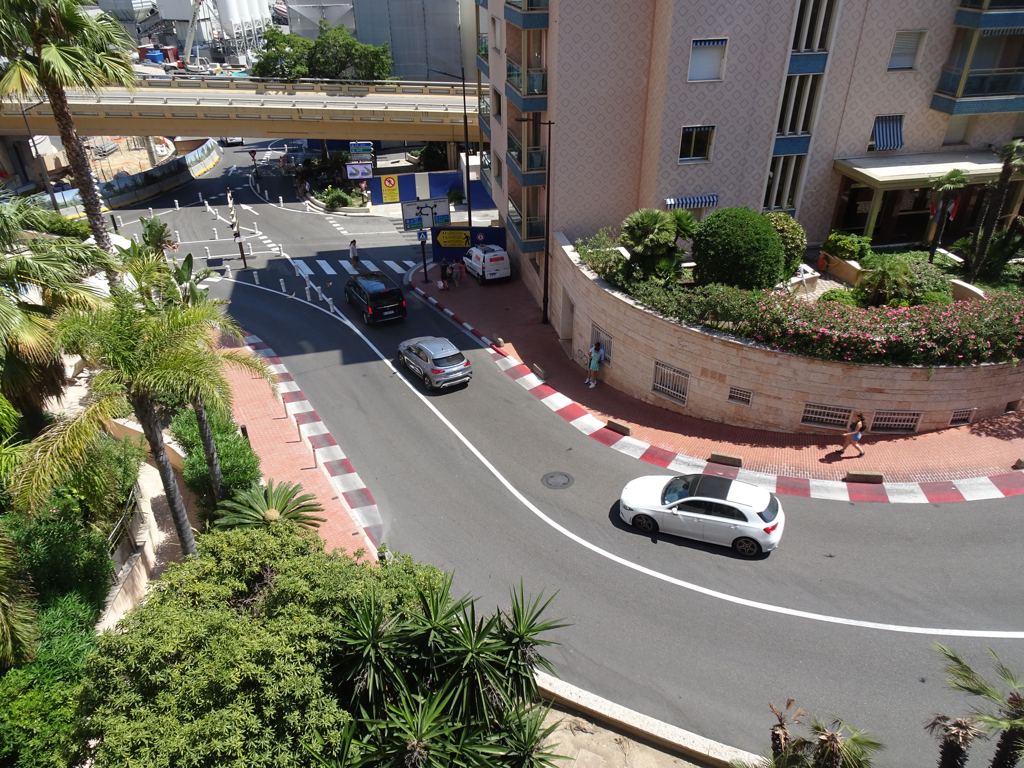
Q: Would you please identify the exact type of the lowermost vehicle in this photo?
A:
automobile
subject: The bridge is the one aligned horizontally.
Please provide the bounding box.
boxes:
[0,68,488,178]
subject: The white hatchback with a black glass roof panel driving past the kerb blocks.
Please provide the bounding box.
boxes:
[619,471,791,557]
